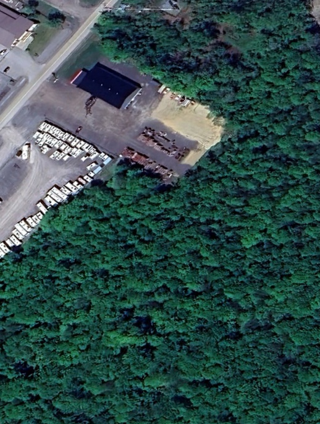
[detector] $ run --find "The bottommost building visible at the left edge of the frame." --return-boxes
[0,5,39,51]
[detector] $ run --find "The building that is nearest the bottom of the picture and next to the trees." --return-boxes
[70,57,146,113]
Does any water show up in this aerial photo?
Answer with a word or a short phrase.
No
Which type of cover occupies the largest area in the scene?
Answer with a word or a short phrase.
trees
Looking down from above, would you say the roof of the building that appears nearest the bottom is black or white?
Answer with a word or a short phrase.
black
